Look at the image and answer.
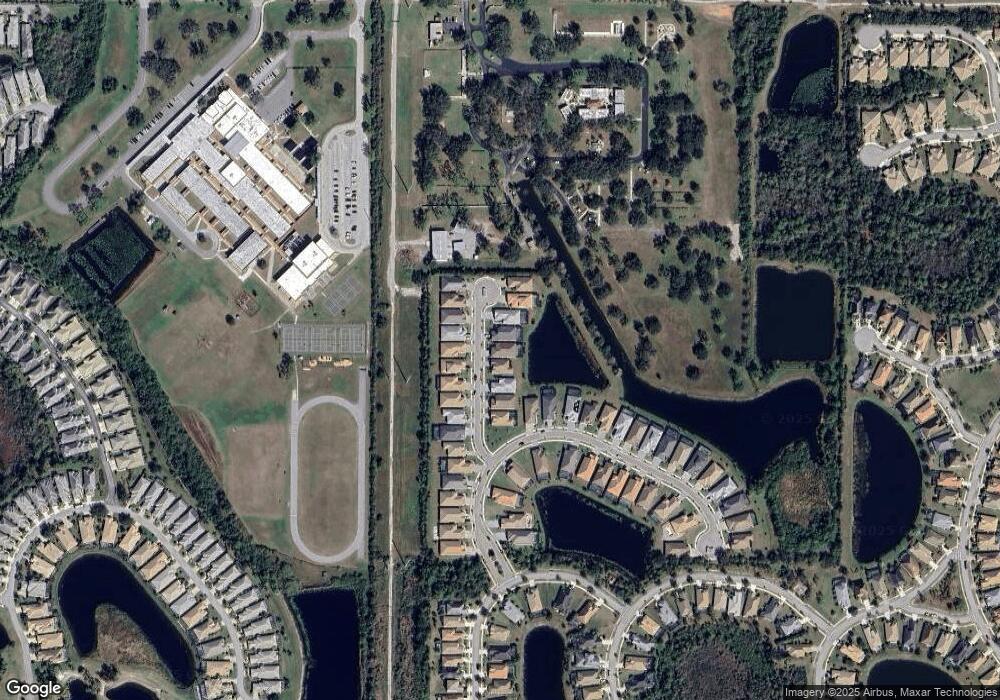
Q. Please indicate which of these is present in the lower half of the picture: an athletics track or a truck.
athletics track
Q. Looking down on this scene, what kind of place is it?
residential area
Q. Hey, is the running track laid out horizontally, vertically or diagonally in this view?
vertically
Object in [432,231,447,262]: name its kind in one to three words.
shed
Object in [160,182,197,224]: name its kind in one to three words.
building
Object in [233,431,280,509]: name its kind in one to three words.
sports field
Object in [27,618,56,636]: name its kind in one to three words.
house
